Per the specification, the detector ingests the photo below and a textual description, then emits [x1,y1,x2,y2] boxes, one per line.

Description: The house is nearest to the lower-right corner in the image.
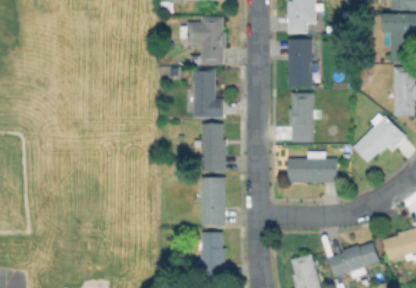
[382,228,416,262]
